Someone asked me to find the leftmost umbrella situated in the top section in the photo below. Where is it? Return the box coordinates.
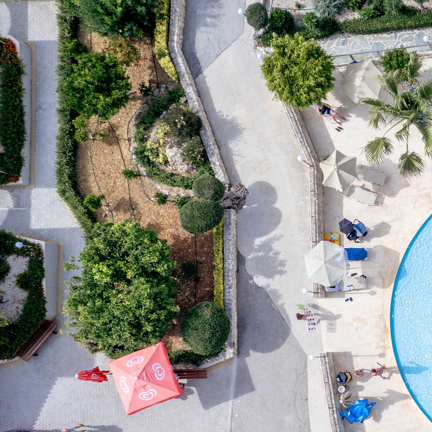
[317,149,359,190]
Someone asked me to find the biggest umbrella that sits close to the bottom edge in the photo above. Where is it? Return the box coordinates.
[109,343,184,416]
